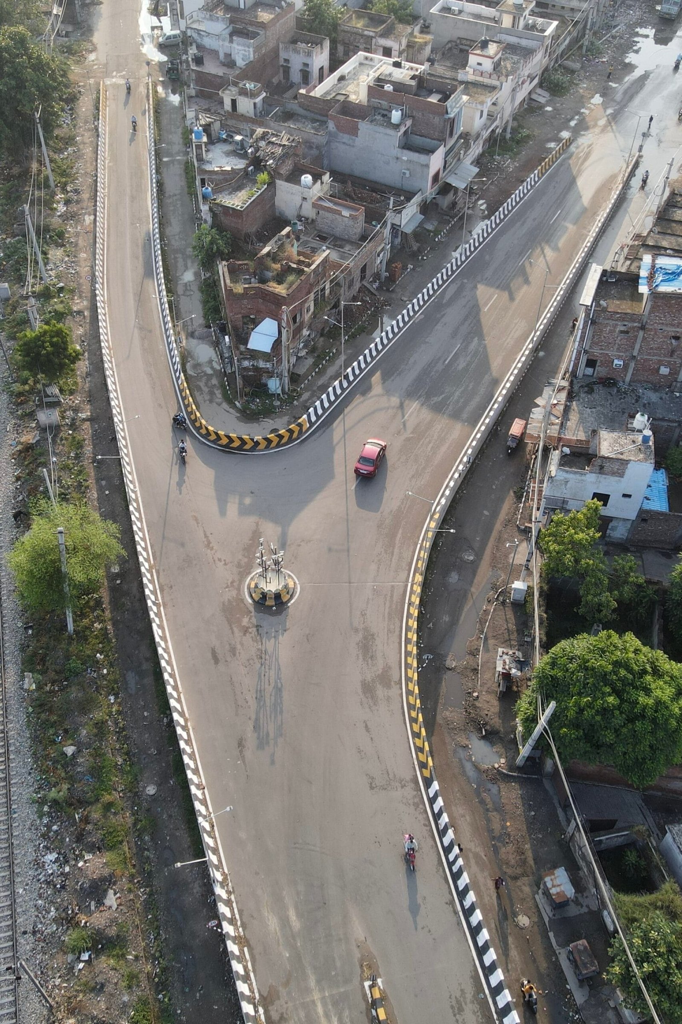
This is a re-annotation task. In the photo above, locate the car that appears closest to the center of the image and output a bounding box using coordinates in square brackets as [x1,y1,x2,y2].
[352,434,385,479]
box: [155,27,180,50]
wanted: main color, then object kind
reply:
gray vehicle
